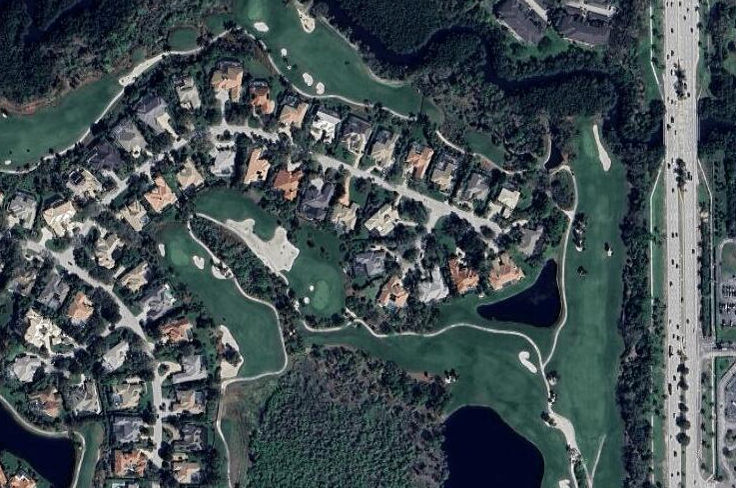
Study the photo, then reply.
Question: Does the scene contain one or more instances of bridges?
Yes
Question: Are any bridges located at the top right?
Yes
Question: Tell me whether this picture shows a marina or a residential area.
residential area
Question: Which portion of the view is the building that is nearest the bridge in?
top right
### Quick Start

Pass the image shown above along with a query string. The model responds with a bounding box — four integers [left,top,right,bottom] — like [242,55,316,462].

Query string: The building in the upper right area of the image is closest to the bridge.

[558,13,611,48]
